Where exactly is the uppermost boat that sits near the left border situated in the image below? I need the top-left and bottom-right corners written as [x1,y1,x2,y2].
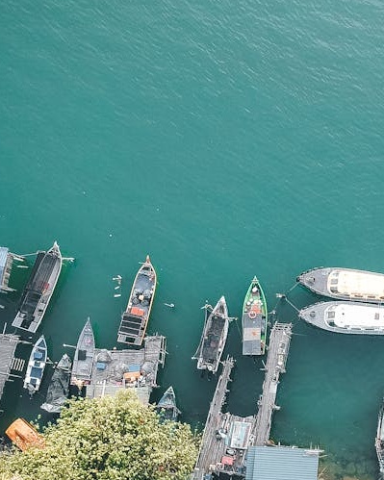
[15,239,59,332]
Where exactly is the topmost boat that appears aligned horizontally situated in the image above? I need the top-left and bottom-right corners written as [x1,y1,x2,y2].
[297,268,384,304]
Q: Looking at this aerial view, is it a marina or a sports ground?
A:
marina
